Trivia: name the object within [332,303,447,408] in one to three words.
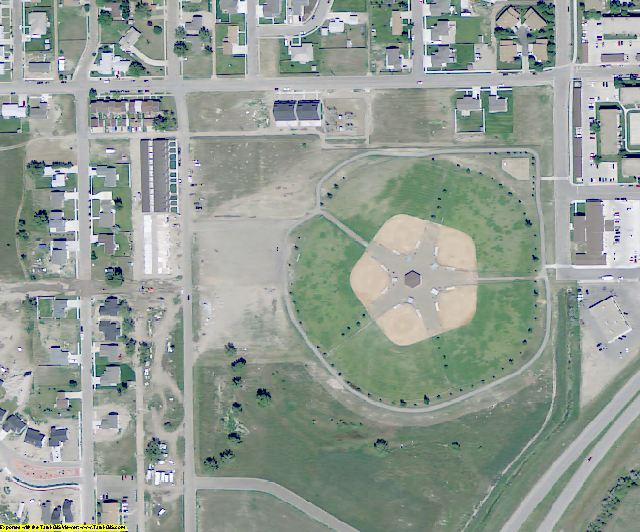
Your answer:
baseball field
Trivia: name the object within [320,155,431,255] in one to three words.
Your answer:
baseball field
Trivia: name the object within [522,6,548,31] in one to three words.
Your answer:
house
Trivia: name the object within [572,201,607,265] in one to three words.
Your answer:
building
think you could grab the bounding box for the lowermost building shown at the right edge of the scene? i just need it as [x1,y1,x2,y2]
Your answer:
[590,296,632,342]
